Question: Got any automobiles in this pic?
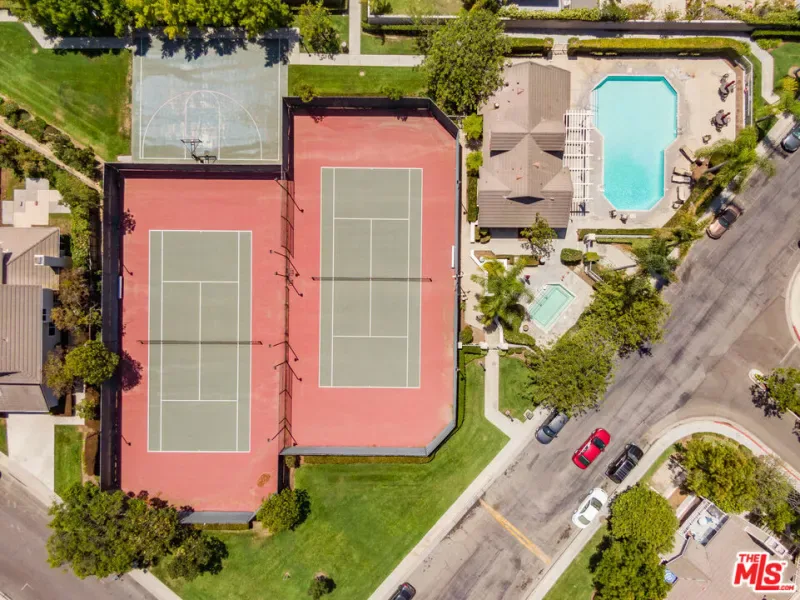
Yes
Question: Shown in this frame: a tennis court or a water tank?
tennis court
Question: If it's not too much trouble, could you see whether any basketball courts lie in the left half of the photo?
Yes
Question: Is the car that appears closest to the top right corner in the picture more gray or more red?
gray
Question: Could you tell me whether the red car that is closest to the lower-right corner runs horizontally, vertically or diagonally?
diagonally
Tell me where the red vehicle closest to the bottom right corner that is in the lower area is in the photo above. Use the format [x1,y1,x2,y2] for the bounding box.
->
[572,427,610,470]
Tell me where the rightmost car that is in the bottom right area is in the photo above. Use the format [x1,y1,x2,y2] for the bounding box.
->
[605,442,645,485]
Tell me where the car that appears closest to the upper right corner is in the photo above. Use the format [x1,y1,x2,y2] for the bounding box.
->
[778,115,800,152]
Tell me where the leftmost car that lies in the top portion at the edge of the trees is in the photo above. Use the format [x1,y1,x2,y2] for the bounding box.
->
[705,200,744,240]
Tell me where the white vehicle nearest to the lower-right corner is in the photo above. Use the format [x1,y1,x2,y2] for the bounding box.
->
[571,488,607,530]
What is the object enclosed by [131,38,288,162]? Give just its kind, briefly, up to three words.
basketball court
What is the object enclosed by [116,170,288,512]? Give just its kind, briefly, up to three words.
tennis court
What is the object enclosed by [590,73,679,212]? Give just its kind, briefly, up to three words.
swimming pool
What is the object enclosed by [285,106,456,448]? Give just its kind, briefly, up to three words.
tennis court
